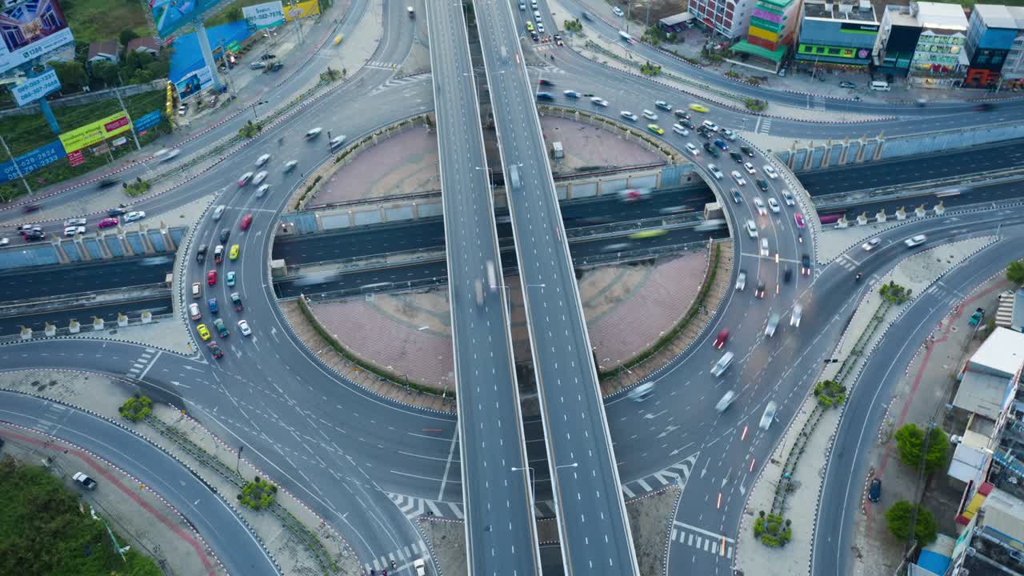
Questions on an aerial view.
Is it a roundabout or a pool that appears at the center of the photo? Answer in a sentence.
The feature located at the center of the photo is a roundabout.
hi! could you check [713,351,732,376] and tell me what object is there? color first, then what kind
white vehicle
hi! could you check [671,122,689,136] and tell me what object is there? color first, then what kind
white car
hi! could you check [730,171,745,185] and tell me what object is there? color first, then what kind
white car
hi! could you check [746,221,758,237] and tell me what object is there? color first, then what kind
white vehicle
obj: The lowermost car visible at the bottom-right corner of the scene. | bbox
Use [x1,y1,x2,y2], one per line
[867,476,883,504]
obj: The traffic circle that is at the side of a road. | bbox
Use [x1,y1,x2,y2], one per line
[181,67,822,505]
